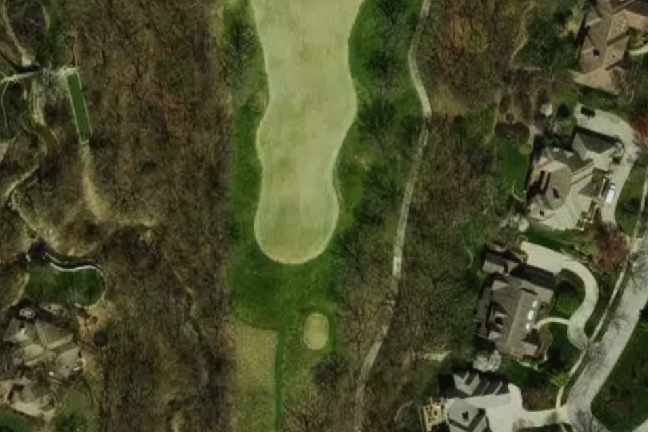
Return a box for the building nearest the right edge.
[577,0,648,91]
